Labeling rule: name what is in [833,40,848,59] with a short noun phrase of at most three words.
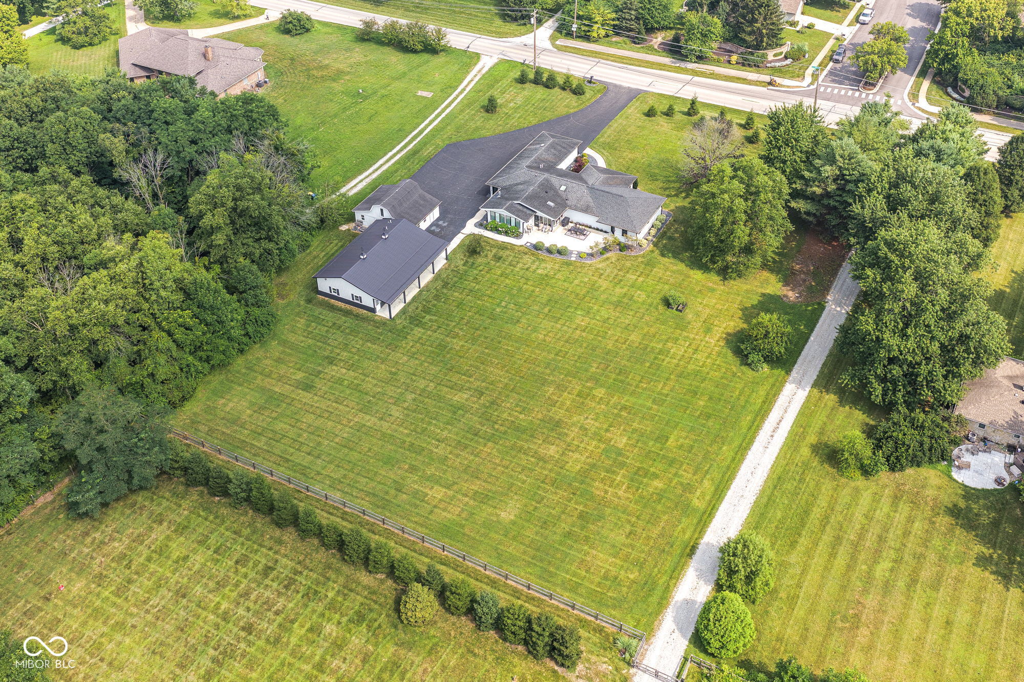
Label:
car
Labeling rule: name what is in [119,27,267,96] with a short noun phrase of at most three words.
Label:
house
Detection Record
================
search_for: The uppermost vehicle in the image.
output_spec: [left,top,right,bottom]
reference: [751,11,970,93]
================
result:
[860,7,875,21]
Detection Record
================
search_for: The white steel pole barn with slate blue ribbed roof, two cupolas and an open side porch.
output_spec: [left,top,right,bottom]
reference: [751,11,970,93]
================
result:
[311,217,453,318]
